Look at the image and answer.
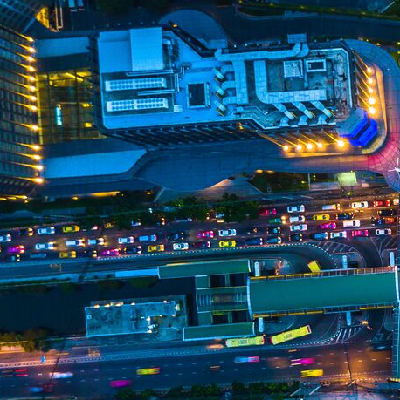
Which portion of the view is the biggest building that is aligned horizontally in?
top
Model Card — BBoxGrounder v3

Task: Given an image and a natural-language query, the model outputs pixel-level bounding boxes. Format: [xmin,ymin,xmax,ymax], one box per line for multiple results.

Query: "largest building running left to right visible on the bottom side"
[86,299,183,337]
